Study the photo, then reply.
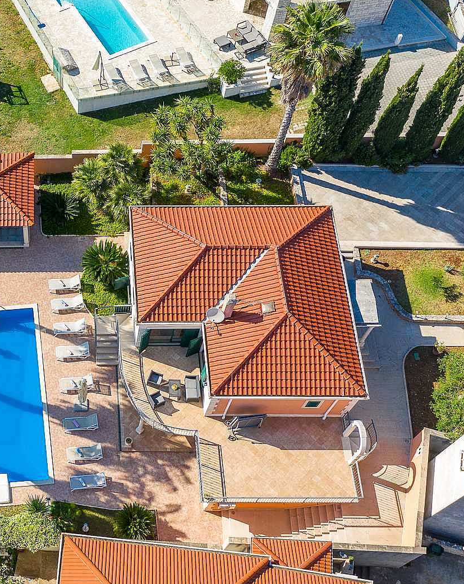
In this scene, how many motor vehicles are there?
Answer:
zero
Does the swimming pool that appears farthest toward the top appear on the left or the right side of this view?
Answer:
left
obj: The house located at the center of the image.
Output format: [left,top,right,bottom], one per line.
[120,203,382,421]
